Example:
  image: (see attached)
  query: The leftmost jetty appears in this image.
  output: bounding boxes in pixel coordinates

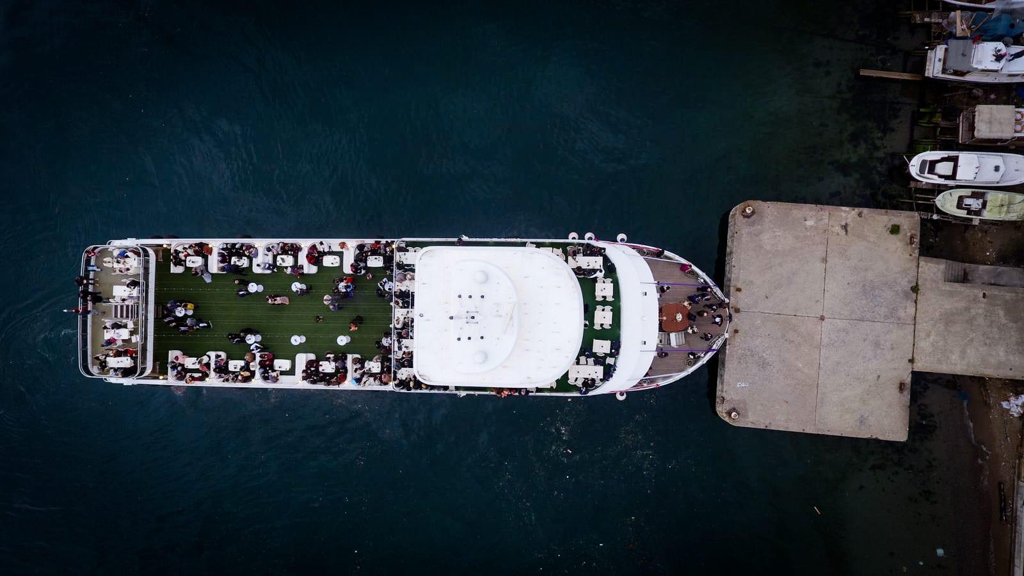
[706,201,919,440]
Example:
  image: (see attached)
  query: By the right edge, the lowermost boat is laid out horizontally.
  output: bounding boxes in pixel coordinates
[935,188,1024,221]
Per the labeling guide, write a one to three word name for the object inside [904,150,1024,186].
boat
